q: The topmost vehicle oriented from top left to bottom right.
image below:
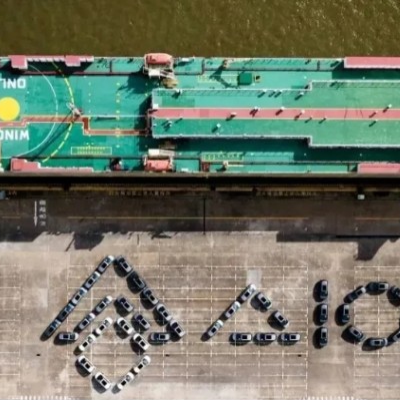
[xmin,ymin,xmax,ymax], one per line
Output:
[117,255,135,274]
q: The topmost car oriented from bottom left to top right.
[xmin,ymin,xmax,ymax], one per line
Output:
[95,255,113,274]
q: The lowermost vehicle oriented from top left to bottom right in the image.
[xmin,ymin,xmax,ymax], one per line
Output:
[95,372,113,391]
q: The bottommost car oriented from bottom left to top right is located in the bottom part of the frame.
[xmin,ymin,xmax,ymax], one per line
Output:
[115,373,134,391]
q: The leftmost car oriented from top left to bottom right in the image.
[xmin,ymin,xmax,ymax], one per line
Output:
[78,355,97,374]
